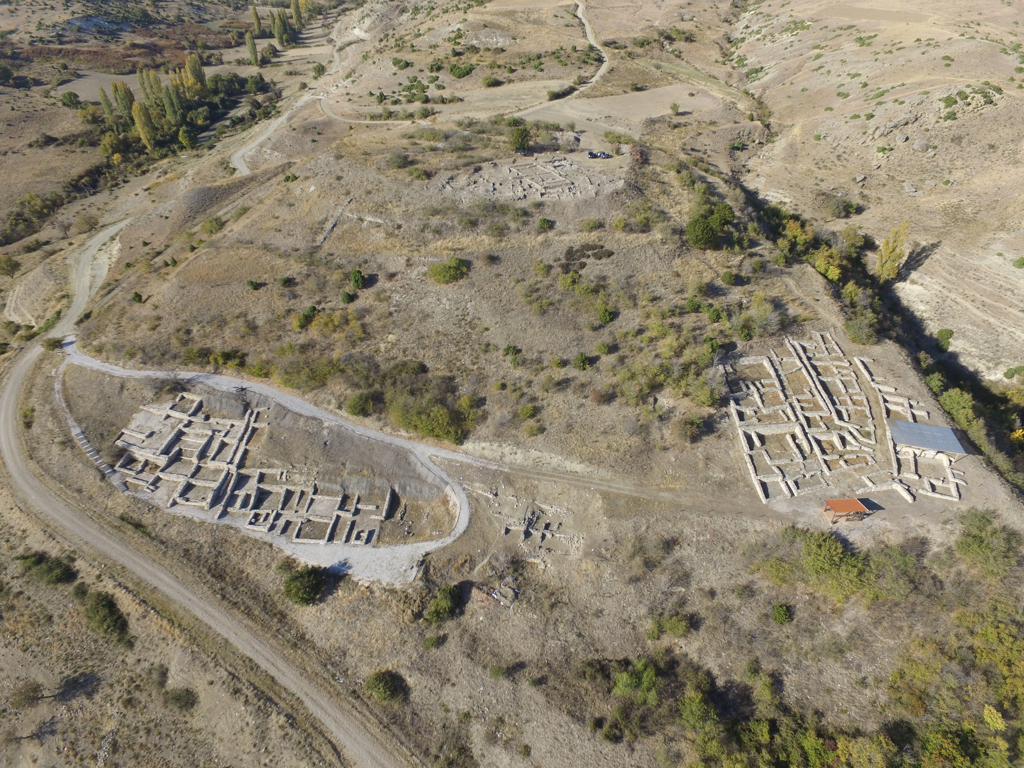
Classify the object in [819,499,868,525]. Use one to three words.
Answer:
shed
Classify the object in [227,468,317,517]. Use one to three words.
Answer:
house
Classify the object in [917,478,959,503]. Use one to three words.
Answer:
house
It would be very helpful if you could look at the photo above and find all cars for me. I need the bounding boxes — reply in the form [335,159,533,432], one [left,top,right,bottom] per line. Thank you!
[587,148,595,158]
[596,147,610,158]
